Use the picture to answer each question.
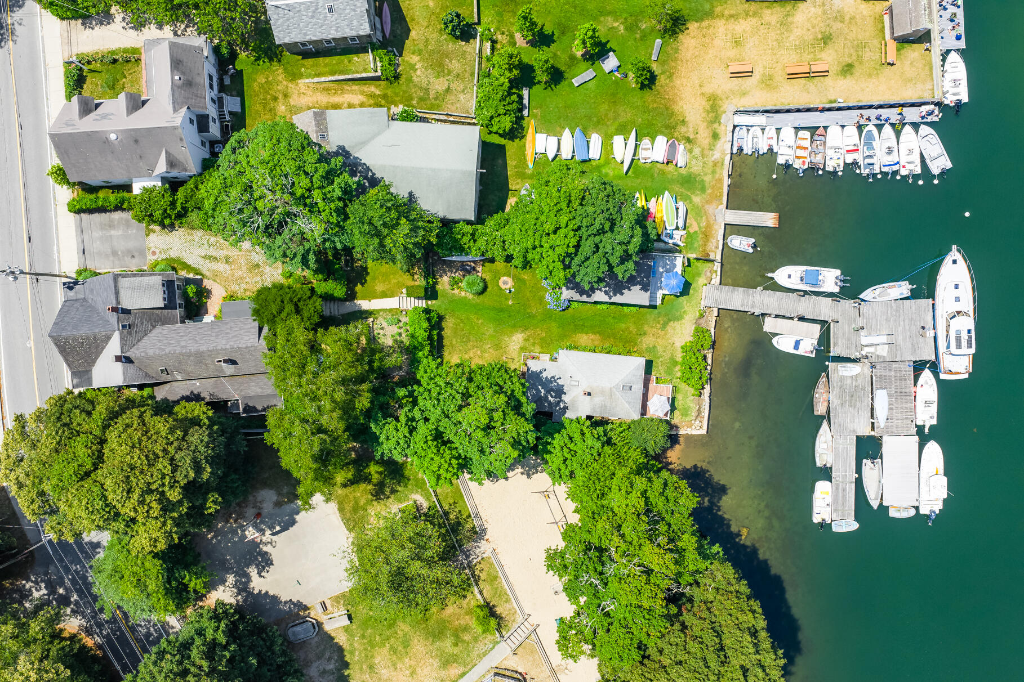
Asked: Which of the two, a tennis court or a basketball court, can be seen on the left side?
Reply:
basketball court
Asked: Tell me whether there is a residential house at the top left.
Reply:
Yes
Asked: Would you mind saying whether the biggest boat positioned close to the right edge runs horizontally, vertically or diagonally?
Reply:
vertically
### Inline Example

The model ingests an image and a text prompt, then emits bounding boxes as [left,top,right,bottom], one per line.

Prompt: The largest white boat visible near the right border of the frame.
[933,241,979,379]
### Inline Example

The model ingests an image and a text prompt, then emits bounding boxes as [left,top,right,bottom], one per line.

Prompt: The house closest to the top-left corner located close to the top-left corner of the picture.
[48,36,241,196]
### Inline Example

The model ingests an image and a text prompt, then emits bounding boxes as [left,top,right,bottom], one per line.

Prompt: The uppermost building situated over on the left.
[265,0,376,53]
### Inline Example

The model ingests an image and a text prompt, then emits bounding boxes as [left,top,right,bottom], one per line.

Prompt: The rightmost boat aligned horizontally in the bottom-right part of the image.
[887,506,916,518]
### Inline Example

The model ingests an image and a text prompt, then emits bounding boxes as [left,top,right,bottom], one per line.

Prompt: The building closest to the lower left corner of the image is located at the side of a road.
[49,272,287,416]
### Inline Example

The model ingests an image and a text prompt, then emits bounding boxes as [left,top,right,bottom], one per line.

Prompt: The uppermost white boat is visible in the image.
[942,48,967,118]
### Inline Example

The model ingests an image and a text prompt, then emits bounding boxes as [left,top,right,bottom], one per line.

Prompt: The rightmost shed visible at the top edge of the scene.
[877,0,932,48]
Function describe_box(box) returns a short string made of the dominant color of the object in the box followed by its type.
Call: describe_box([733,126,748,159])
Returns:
white boat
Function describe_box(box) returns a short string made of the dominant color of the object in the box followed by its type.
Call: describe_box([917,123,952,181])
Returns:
white boat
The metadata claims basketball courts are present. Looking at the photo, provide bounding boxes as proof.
[194,489,352,622]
